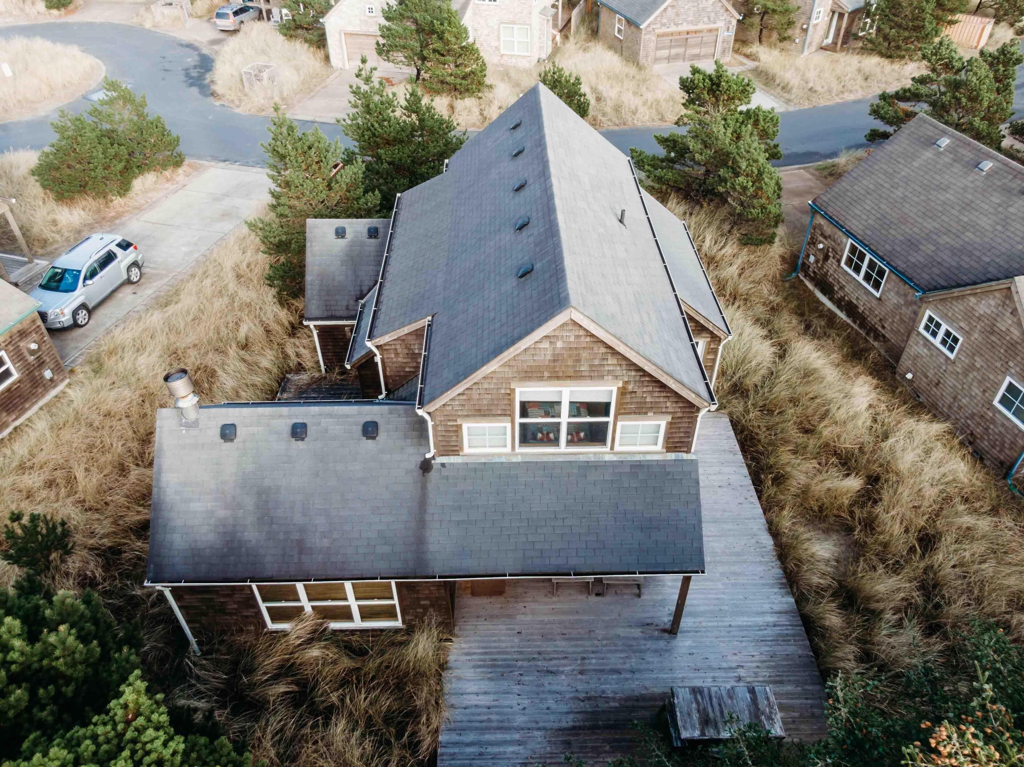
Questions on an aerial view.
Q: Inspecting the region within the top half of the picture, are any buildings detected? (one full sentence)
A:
Yes, a building appears within the top half of the picture.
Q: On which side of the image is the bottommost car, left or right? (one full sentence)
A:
The bottommost car sits on the left side.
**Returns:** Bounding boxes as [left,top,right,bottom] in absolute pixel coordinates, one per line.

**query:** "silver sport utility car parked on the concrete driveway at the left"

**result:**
[29,227,148,334]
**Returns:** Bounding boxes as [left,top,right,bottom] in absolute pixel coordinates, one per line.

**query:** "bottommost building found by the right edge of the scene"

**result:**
[785,106,1024,498]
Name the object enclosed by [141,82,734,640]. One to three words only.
house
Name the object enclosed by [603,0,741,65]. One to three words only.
building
